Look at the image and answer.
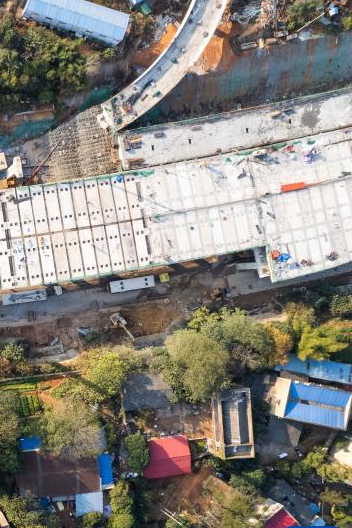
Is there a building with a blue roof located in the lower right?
Yes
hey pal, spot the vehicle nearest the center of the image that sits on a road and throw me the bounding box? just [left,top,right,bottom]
[155,271,174,283]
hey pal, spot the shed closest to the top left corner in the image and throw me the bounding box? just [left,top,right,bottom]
[21,0,131,48]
